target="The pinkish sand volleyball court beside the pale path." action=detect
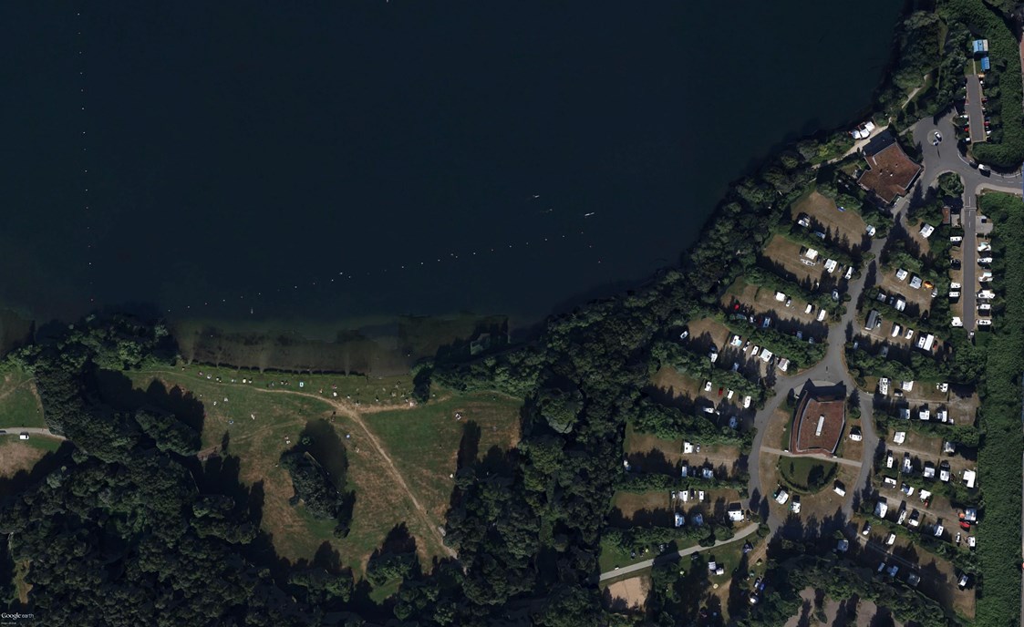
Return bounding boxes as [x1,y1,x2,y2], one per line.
[608,576,651,612]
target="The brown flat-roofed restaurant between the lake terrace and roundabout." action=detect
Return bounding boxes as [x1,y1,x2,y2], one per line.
[860,128,922,202]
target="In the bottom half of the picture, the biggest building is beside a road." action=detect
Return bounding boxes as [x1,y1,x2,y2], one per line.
[790,390,846,457]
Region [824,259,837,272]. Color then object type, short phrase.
white vehicle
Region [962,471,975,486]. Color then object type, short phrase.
white vehicle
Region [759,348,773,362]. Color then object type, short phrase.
white camper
